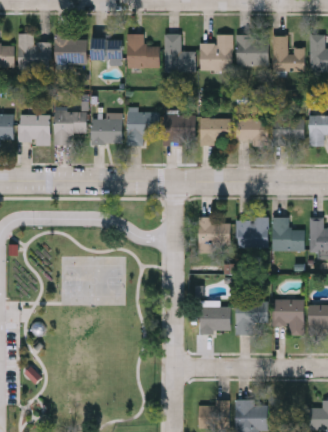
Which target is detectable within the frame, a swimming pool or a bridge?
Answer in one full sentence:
Visible in the photo is a swimming pool.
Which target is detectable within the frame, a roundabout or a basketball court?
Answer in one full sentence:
It is a basketball court that can be seen here.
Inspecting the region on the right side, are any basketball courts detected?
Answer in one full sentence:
No, on the right side there is no basketball court.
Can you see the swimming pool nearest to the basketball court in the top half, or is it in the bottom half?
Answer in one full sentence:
It is in the bottom half that the swimming pool nearest to the basketball court appears.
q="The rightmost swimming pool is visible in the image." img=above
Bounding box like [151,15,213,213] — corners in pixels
[309,286,328,301]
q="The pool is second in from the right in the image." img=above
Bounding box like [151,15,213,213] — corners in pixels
[277,278,305,296]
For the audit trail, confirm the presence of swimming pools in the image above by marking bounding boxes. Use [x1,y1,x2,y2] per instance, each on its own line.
[277,278,305,296]
[309,286,328,301]
[204,280,230,300]
[98,66,123,84]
